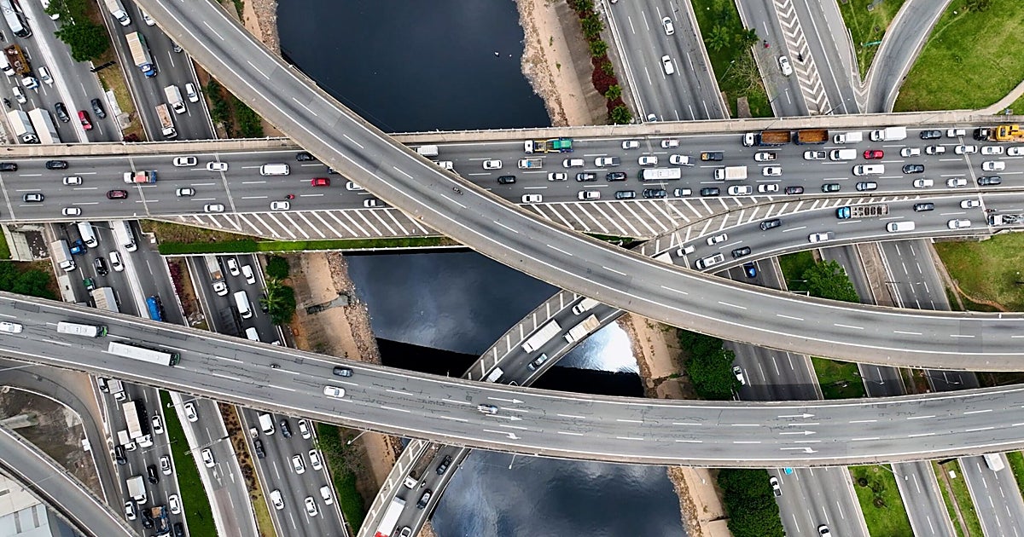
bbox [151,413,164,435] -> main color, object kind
white vehicle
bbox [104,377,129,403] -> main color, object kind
white truck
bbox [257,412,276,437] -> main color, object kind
white vehicle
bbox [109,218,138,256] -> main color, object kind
white bus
